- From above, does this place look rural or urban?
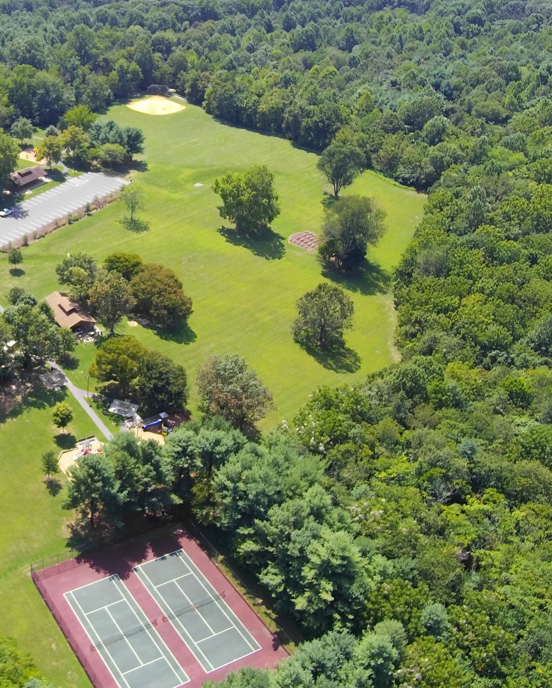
rural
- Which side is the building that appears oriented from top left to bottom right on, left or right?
left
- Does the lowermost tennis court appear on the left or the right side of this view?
left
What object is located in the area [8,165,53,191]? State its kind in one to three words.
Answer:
building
